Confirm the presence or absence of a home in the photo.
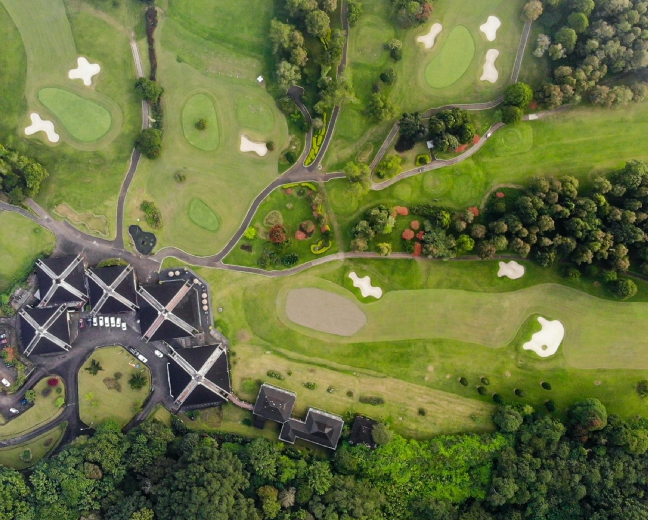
Yes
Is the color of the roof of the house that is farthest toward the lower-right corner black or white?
black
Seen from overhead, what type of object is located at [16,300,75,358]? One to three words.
building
